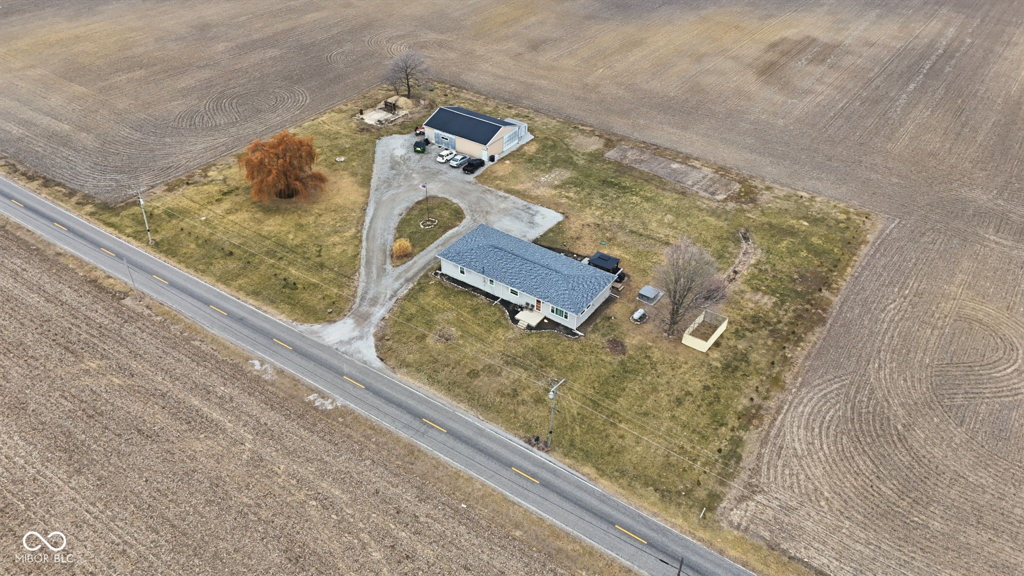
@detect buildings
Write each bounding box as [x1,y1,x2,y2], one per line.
[423,106,520,161]
[636,286,663,306]
[436,224,622,334]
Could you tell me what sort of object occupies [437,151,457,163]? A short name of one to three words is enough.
vehicle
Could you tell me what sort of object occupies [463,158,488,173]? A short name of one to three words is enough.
vehicle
